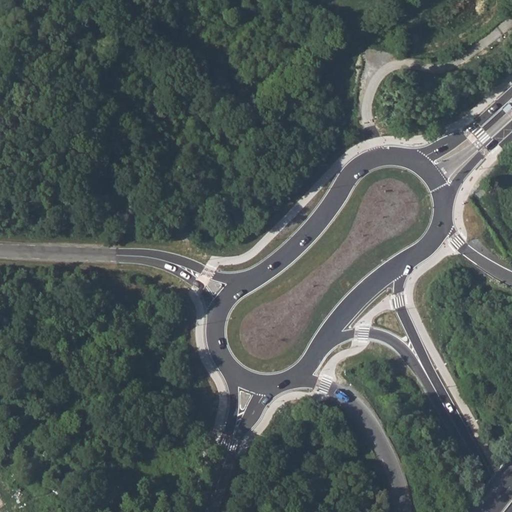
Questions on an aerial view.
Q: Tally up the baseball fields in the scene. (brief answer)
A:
none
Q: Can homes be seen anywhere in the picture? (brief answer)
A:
No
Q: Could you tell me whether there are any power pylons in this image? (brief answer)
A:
No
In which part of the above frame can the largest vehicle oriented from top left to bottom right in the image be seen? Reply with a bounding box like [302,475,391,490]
[334,389,351,404]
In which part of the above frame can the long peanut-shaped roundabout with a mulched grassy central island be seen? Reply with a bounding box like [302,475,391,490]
[116,82,512,463]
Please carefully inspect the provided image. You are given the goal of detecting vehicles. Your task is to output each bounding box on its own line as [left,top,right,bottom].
[334,389,351,404]
[278,380,290,388]
[194,282,203,290]
[486,140,498,150]
[300,236,312,246]
[490,104,501,113]
[468,122,478,130]
[446,402,454,413]
[235,290,246,298]
[269,262,279,270]
[262,394,272,404]
[164,264,176,271]
[404,264,412,275]
[355,170,366,178]
[503,100,512,110]
[180,272,190,279]
[220,338,226,348]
